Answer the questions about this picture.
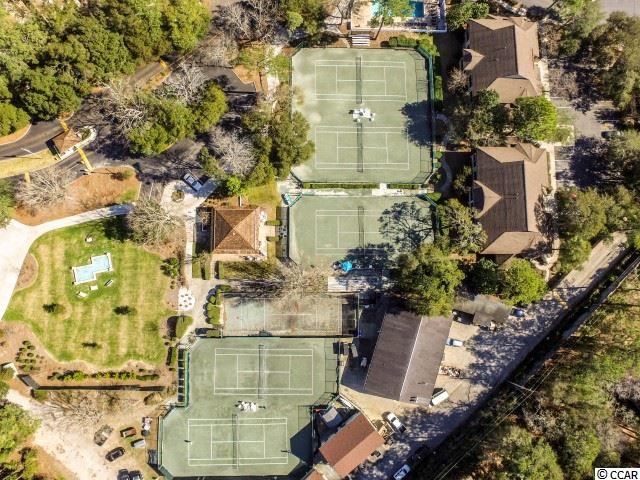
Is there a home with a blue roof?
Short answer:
No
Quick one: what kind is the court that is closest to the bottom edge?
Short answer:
tennis court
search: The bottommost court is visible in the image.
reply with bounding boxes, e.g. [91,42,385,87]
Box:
[161,408,312,476]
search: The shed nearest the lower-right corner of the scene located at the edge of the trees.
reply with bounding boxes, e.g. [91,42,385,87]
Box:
[471,298,511,328]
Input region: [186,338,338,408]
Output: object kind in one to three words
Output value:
tennis court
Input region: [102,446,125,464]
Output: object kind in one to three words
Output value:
car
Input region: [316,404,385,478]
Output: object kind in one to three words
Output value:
shed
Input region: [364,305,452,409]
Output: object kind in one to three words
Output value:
barn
